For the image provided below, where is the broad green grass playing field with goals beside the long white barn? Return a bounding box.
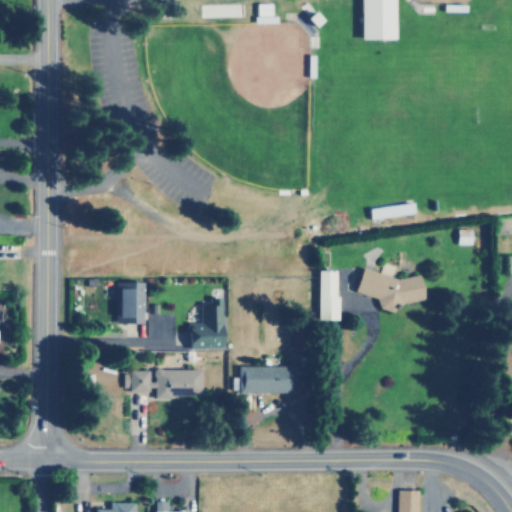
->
[310,0,512,228]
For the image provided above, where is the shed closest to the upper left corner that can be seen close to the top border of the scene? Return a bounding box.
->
[201,4,246,19]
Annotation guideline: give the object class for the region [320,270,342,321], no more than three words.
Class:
building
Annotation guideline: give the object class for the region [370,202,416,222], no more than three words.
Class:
shed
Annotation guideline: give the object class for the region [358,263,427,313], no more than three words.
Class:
house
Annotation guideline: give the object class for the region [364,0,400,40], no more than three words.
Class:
barn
